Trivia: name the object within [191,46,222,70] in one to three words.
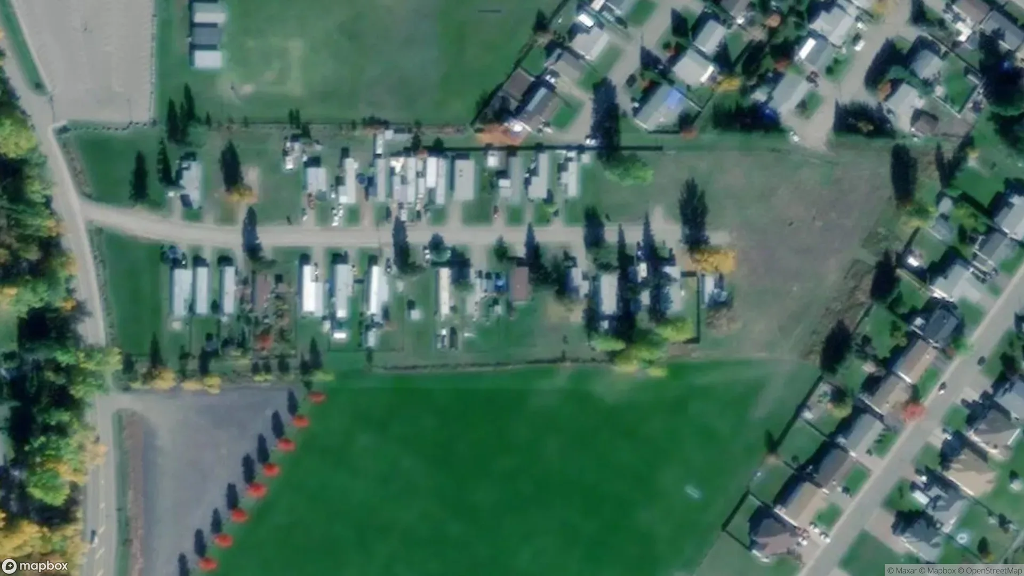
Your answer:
building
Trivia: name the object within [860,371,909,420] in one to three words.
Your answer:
house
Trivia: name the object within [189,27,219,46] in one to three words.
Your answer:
building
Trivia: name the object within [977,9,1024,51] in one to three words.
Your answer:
house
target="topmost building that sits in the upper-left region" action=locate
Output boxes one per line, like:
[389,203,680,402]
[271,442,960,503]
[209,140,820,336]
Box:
[190,2,224,24]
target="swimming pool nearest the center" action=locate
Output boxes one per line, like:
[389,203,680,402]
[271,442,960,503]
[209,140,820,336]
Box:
[430,244,450,263]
